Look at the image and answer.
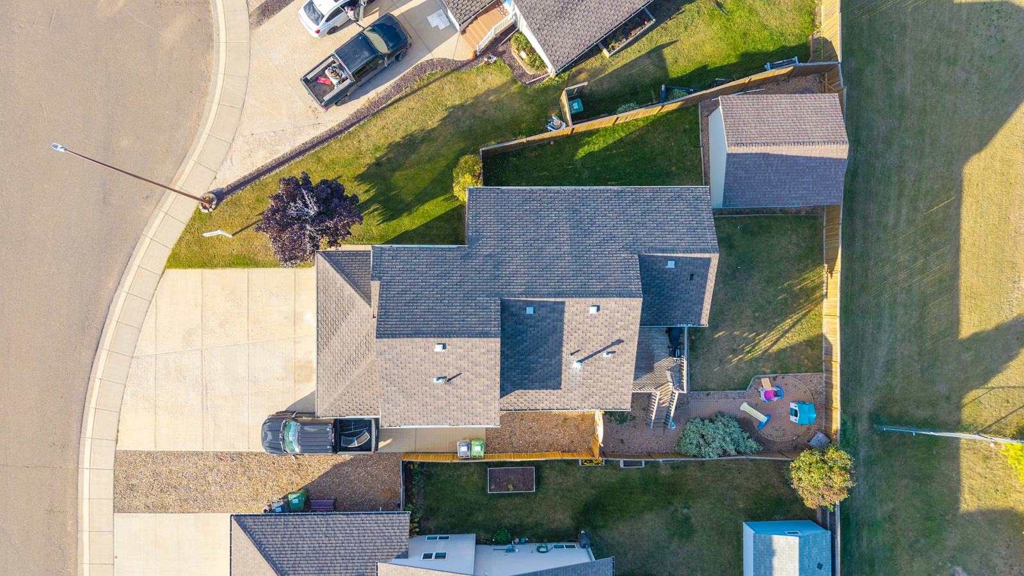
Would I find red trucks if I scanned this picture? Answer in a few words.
No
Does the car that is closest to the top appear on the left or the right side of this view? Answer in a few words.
left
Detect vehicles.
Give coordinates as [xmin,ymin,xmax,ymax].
[263,412,382,461]
[298,0,382,41]
[303,19,412,113]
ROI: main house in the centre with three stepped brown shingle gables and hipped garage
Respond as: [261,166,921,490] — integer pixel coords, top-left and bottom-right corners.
[314,184,718,428]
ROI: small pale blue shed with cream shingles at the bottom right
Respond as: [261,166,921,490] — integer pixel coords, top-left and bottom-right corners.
[743,524,830,576]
